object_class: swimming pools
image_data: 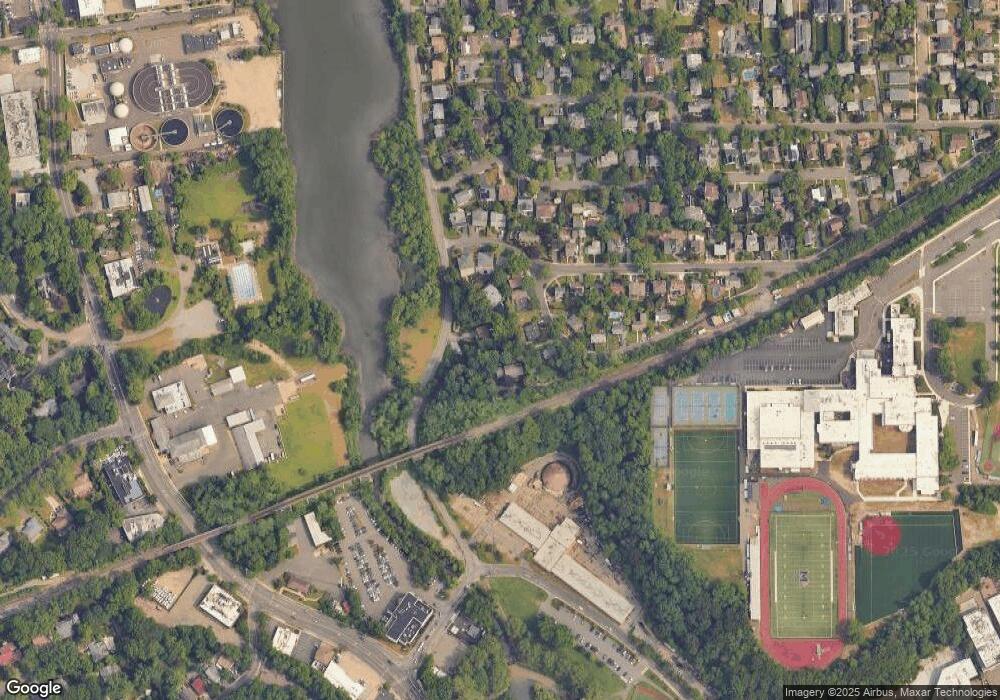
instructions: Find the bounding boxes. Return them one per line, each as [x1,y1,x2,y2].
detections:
[228,263,260,307]
[742,68,758,81]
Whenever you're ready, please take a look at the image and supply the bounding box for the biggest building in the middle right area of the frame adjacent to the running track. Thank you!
[746,304,938,495]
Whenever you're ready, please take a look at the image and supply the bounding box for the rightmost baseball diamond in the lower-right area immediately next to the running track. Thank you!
[855,509,964,620]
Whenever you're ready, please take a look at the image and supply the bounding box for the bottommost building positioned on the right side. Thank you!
[934,658,978,700]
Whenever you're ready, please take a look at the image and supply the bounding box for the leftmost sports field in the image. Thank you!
[488,577,548,621]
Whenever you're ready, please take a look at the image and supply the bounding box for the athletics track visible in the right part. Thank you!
[760,477,850,669]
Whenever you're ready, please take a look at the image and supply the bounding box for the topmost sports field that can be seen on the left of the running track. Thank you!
[674,430,740,545]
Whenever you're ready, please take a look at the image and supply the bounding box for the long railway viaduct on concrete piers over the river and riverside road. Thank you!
[239,436,446,528]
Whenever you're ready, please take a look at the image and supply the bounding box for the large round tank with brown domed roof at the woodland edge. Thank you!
[541,460,572,491]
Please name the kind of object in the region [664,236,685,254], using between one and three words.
house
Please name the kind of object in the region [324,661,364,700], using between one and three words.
building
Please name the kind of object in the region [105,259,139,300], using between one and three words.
building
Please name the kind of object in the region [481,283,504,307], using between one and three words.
house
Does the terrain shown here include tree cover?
Yes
